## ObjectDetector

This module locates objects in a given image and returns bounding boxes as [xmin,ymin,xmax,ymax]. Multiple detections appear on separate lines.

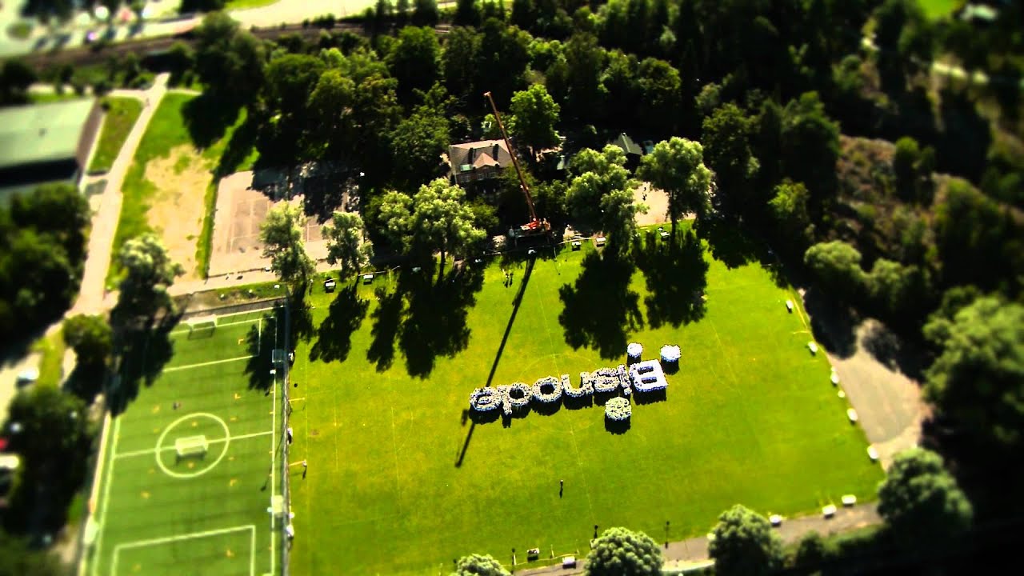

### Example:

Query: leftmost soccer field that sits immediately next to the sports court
[80,305,283,576]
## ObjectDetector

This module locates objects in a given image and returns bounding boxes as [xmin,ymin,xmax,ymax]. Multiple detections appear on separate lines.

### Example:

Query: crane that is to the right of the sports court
[479,90,560,247]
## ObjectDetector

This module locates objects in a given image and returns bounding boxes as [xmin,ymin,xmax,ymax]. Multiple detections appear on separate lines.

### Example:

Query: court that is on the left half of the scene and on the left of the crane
[207,158,370,277]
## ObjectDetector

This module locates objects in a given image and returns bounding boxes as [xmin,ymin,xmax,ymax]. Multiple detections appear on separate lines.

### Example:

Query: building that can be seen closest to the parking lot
[0,97,111,213]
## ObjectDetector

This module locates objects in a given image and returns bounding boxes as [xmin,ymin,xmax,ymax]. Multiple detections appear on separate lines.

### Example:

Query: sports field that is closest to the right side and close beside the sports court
[284,237,879,576]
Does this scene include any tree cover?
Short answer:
Yes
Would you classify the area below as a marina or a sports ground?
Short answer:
sports ground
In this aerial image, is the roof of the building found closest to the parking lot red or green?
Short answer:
green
